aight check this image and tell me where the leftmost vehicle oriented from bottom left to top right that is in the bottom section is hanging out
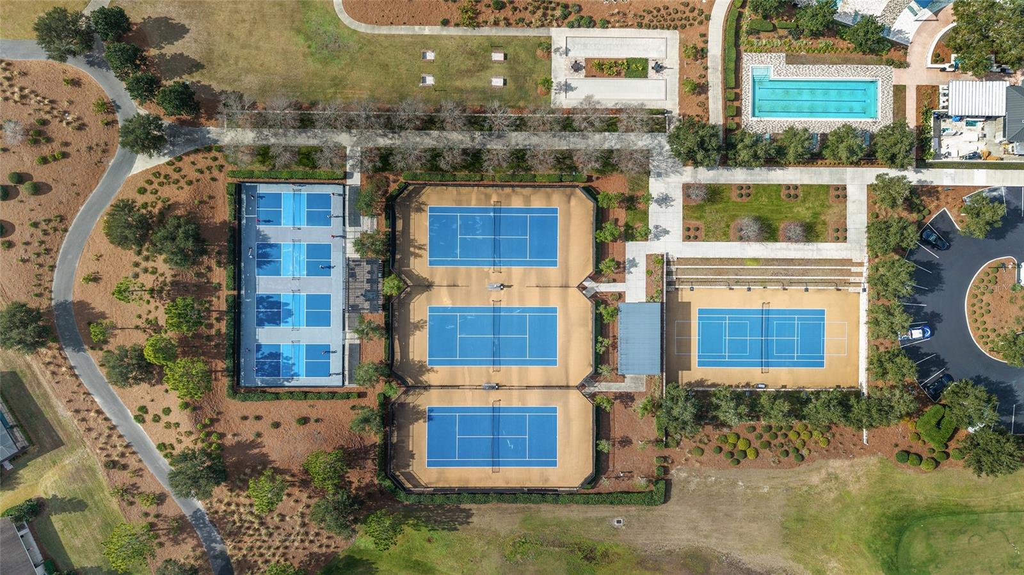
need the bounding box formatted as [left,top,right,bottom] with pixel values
[924,375,952,398]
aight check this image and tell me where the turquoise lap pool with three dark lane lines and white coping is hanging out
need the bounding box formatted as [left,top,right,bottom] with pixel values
[742,52,893,133]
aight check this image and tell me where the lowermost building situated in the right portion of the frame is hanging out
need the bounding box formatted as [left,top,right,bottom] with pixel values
[615,303,661,375]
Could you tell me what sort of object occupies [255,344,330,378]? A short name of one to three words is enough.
sports court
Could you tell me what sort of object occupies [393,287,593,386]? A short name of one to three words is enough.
tennis court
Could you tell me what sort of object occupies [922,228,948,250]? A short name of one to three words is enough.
car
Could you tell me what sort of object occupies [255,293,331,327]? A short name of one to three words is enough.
sports court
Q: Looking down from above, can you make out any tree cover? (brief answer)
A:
Yes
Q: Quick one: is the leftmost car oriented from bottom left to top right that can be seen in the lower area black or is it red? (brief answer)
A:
black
